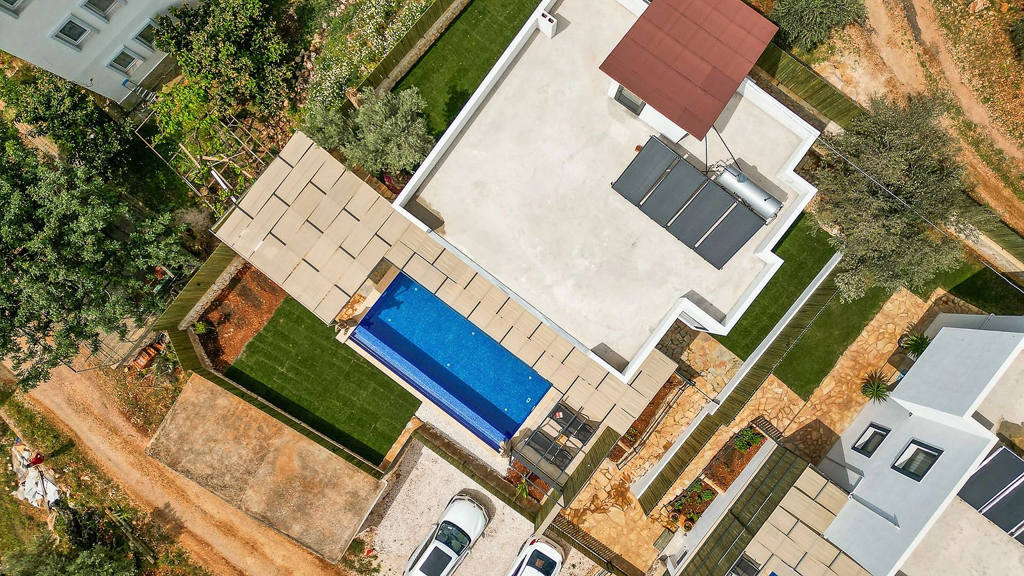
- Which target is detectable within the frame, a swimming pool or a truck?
swimming pool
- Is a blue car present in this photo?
No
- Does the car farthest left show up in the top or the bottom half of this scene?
bottom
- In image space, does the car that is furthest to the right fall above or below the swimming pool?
below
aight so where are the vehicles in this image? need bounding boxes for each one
[402,493,492,576]
[507,536,568,576]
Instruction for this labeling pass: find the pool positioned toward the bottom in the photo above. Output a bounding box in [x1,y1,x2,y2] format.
[330,265,561,463]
